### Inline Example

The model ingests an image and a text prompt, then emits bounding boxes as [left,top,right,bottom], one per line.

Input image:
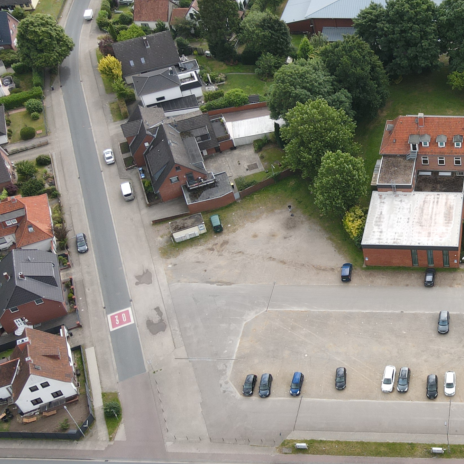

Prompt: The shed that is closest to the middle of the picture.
[172,213,210,240]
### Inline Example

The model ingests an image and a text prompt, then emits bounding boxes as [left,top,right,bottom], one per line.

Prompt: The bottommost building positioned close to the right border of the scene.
[362,114,464,269]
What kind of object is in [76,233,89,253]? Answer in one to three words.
vehicle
